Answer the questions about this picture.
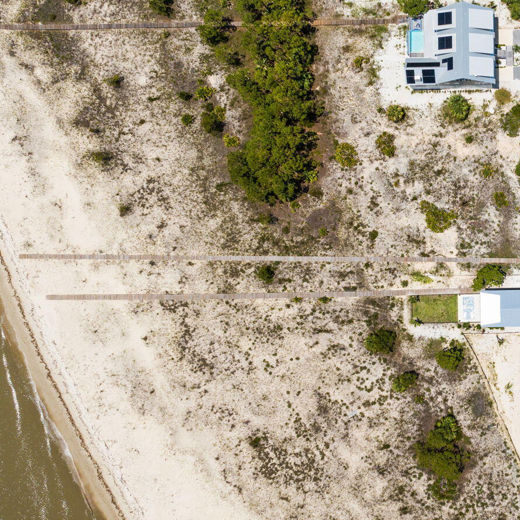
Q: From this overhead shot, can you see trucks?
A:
No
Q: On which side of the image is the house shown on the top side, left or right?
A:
right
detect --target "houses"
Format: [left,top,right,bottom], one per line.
[458,291,520,327]
[404,2,513,88]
